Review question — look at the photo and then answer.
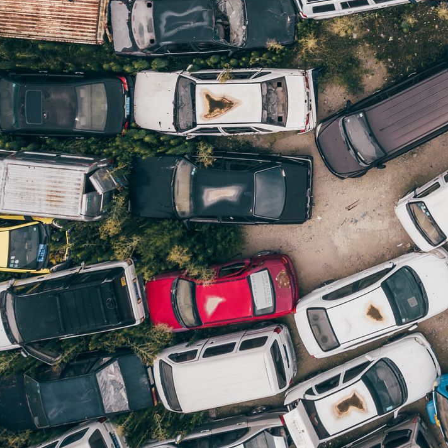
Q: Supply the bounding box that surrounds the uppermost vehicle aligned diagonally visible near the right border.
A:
[317,55,448,174]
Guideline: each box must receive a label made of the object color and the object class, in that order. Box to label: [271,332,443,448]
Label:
white car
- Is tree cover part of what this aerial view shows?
No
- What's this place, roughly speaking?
parking lot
